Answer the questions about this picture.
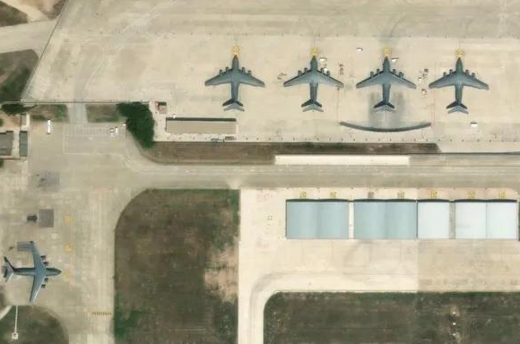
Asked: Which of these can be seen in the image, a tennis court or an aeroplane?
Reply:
aeroplane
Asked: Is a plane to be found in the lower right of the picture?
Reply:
No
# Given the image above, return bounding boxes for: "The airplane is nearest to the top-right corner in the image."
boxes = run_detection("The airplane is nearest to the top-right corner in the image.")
[429,57,489,113]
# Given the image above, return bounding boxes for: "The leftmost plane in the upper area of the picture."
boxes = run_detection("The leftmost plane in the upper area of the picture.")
[205,55,264,111]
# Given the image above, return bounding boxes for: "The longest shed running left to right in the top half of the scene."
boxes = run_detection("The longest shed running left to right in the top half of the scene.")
[166,121,236,133]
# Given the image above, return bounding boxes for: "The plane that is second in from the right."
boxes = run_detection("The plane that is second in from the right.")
[356,56,416,112]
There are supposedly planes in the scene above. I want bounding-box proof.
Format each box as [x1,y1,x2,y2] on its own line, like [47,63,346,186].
[205,55,264,111]
[284,56,343,112]
[429,57,489,113]
[6,242,62,301]
[356,56,416,112]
